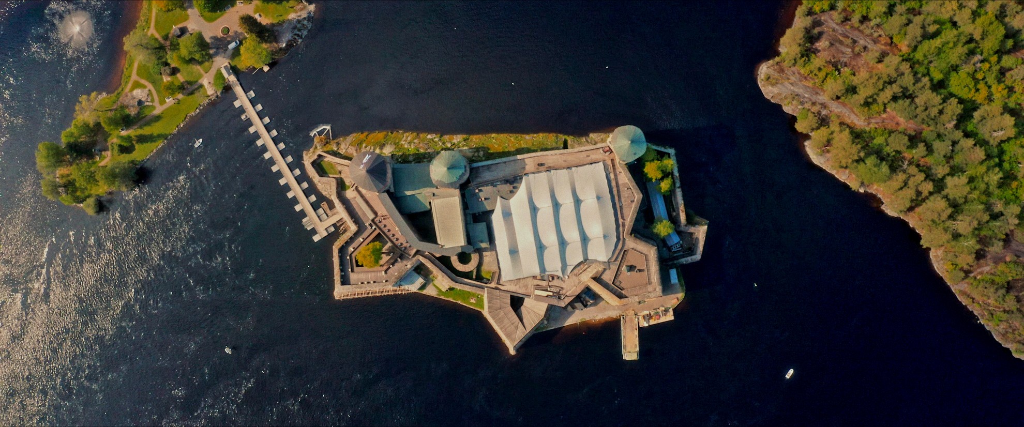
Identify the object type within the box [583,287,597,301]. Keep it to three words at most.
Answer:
vehicle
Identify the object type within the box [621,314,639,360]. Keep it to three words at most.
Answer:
pier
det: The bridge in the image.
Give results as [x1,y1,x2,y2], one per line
[218,63,342,243]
